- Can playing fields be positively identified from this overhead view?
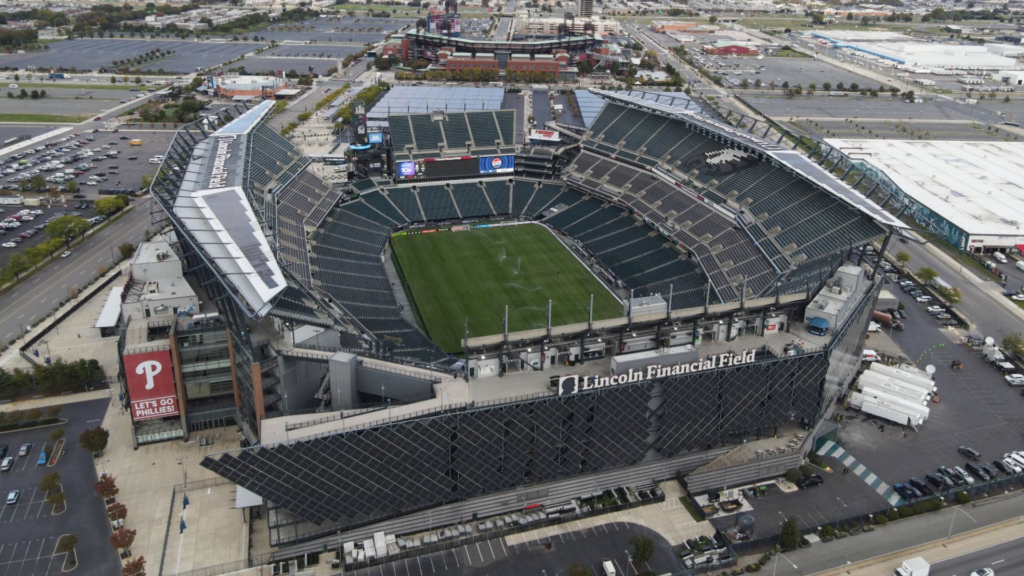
Yes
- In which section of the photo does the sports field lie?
center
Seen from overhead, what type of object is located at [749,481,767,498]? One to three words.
work vehicle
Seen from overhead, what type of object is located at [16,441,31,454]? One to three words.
vehicle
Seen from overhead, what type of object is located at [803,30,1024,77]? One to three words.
building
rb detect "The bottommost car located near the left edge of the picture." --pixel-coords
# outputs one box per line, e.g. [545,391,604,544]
[4,488,20,503]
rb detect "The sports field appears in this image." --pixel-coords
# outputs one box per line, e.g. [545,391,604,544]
[392,223,627,344]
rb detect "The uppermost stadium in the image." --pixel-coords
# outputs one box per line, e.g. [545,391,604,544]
[382,0,636,82]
